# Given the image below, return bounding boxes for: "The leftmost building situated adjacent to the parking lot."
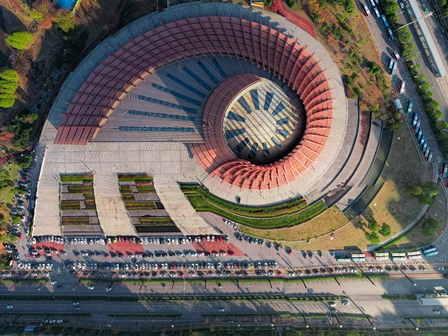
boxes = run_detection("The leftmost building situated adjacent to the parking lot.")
[32,3,383,238]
